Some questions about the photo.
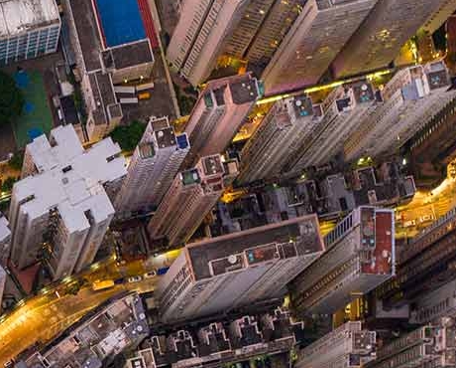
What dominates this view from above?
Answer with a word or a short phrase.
buildings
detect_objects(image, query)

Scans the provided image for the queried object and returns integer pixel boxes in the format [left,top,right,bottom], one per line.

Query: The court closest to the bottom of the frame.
[16,69,52,147]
